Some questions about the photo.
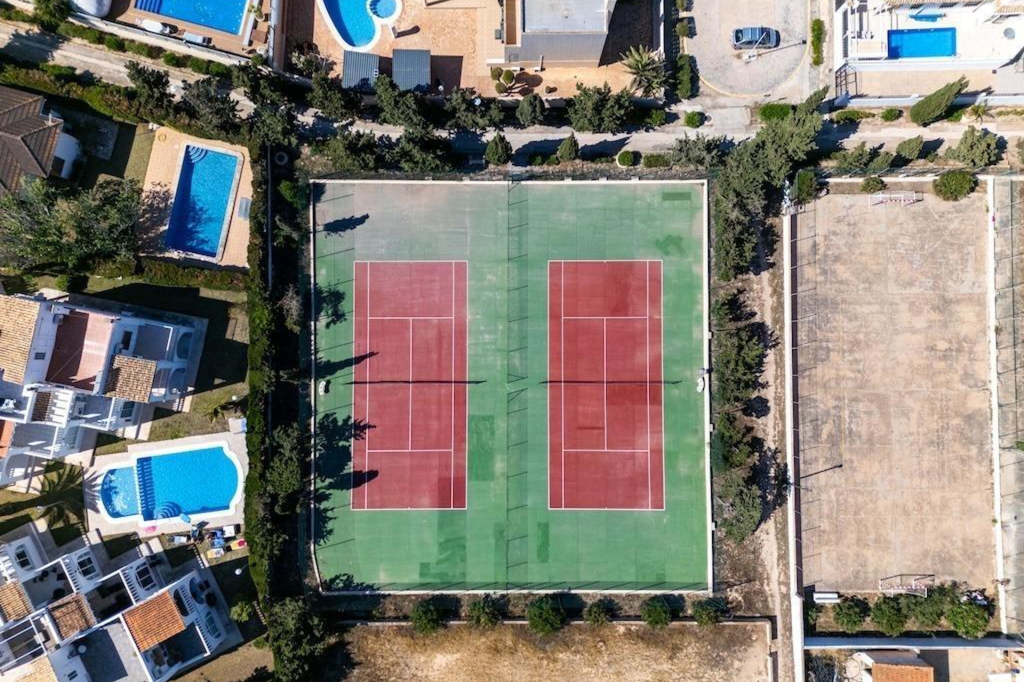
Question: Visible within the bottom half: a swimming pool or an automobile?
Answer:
swimming pool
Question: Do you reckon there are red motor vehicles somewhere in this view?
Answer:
No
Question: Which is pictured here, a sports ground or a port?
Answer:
sports ground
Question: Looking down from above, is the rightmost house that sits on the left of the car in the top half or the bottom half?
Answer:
top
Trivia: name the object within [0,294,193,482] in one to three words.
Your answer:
house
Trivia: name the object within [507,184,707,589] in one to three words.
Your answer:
tennis court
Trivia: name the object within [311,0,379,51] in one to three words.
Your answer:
swimming pool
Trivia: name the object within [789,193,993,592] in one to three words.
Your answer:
sports court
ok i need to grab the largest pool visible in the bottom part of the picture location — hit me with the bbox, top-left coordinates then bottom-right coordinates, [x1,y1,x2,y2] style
[134,443,242,525]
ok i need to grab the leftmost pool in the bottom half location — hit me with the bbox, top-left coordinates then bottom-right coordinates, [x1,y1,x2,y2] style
[98,464,142,521]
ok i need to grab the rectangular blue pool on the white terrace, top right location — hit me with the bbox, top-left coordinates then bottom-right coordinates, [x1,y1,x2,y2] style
[885,24,960,61]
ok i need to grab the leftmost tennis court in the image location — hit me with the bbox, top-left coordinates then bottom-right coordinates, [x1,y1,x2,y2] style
[314,184,508,593]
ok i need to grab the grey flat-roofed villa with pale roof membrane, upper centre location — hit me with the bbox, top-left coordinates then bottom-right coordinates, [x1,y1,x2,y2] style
[487,0,608,72]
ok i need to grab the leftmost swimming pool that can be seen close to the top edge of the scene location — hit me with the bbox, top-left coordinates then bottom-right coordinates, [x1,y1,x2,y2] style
[131,0,249,38]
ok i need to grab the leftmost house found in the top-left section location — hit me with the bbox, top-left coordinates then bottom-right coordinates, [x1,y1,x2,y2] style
[0,88,86,193]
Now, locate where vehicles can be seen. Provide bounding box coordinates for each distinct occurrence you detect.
[733,24,778,49]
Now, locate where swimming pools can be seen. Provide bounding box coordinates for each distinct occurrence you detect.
[885,24,960,61]
[131,0,249,38]
[98,464,142,521]
[161,139,245,262]
[134,443,242,525]
[311,0,379,51]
